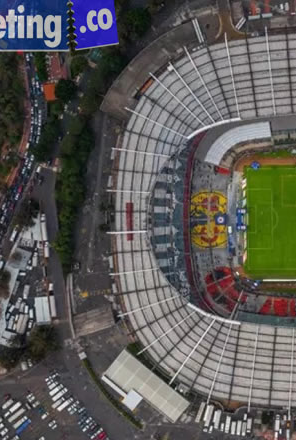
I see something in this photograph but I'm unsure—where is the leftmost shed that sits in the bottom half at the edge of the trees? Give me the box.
[34,296,55,324]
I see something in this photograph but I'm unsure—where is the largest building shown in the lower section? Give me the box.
[102,346,193,423]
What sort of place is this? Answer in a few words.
sports ground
